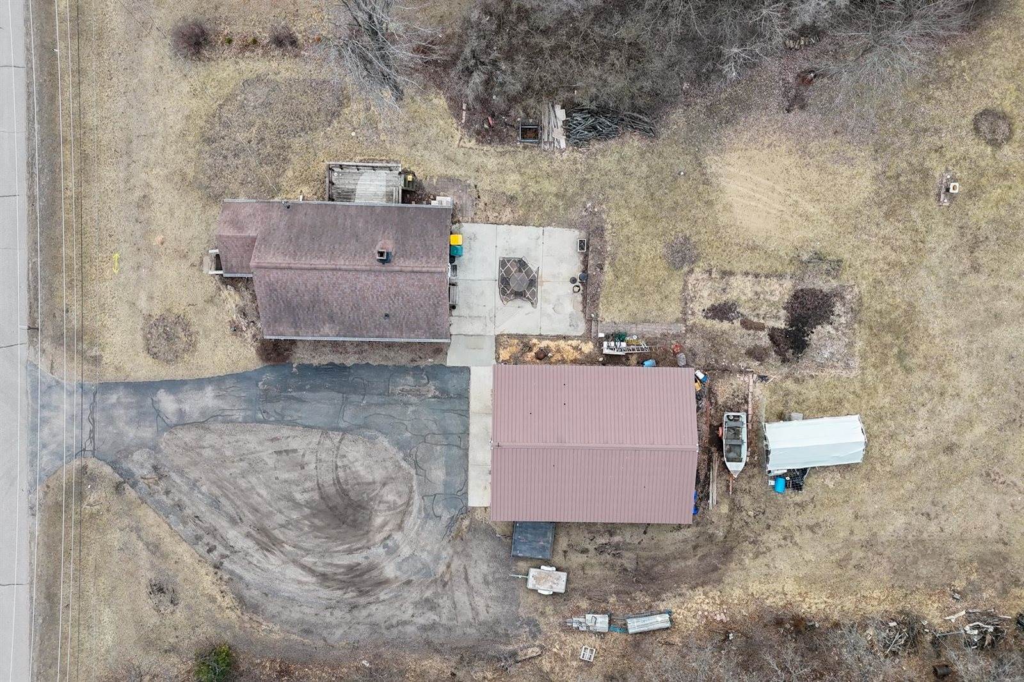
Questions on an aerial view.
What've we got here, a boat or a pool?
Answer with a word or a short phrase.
boat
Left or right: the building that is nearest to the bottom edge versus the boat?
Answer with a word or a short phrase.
on its left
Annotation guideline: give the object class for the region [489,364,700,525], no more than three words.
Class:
building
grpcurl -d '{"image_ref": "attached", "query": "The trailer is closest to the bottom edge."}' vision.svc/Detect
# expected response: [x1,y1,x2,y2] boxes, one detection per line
[509,563,567,597]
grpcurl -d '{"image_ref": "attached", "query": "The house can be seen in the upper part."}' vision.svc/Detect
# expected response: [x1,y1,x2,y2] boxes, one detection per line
[216,198,452,344]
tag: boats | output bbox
[722,411,746,478]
